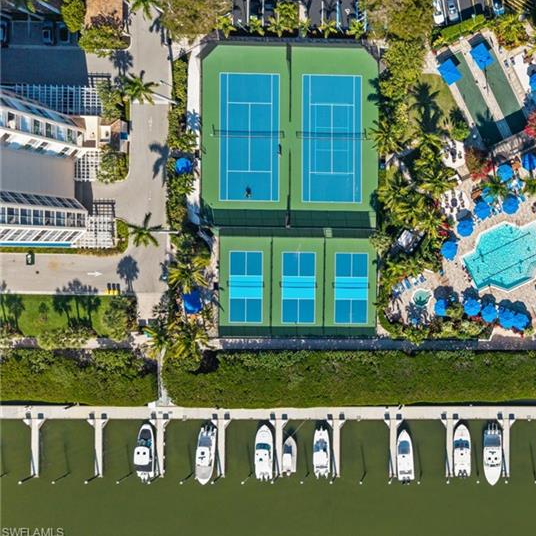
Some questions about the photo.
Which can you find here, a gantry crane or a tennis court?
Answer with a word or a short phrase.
tennis court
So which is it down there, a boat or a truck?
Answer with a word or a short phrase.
boat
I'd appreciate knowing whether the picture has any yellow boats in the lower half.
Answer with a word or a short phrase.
No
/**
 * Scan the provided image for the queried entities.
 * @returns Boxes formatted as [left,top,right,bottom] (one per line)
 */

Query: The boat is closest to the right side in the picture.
[482,423,502,486]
